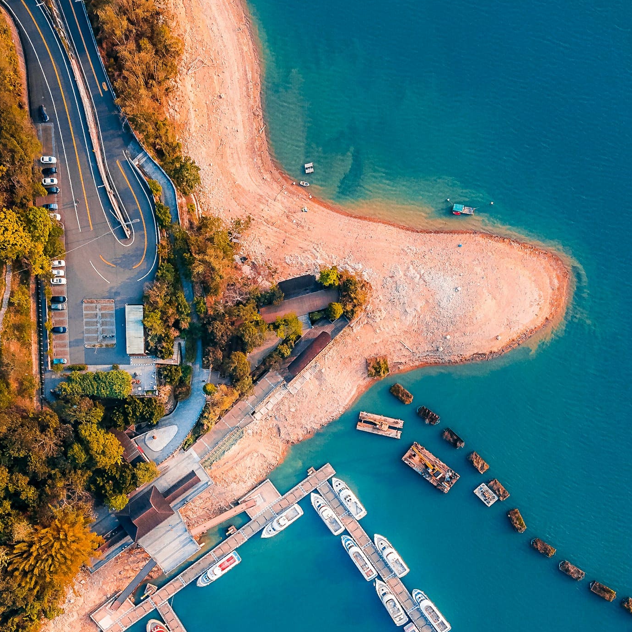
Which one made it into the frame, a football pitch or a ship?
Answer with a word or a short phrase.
ship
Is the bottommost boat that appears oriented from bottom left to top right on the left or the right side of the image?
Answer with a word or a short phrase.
left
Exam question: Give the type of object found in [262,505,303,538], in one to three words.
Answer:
boat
